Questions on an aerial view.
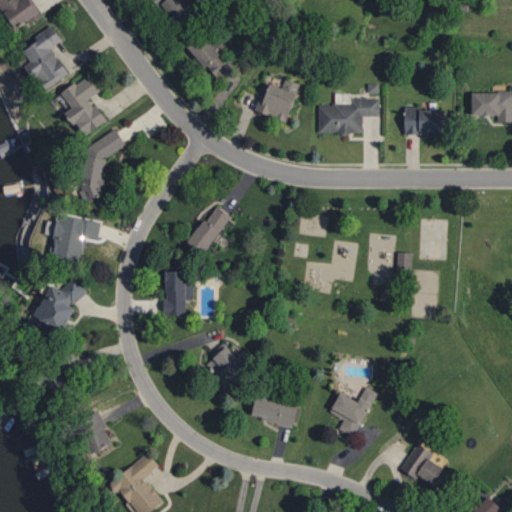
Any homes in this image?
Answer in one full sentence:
Yes, I can see a home in this picture.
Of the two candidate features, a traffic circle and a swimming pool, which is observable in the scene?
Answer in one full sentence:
I can see a swimming pool in this picture.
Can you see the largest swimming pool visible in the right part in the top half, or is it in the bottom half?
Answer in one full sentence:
The largest swimming pool visible in the right part sits in the bottom half of the picture.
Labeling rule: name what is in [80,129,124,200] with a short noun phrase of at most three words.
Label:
house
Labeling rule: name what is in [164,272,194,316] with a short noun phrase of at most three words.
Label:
house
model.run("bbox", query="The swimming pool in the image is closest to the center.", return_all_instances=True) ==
[195,278,219,320]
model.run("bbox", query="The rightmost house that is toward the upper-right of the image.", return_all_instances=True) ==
[472,84,512,123]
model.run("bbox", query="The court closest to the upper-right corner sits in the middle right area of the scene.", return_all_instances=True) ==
[420,219,448,262]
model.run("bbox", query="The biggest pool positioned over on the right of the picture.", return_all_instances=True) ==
[336,359,372,398]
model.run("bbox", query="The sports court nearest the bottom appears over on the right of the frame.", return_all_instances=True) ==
[412,270,439,319]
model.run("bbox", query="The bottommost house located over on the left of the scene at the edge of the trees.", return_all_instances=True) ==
[108,455,164,512]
